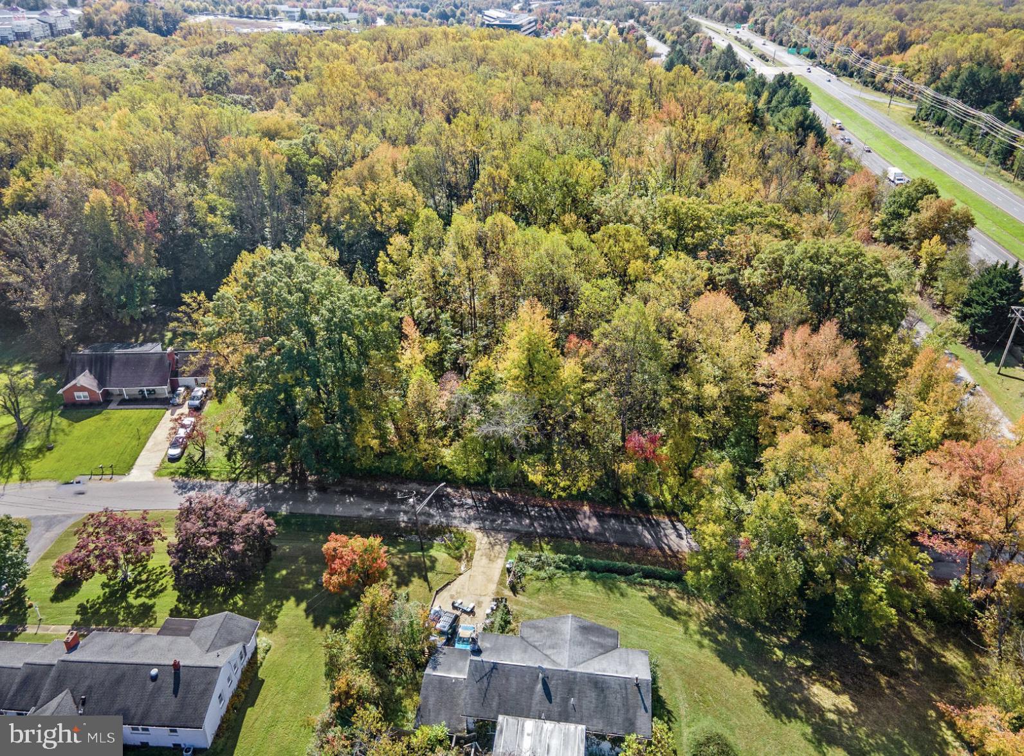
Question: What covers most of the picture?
trees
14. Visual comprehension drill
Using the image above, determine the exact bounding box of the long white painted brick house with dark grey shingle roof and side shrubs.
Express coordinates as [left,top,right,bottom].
[0,606,255,756]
